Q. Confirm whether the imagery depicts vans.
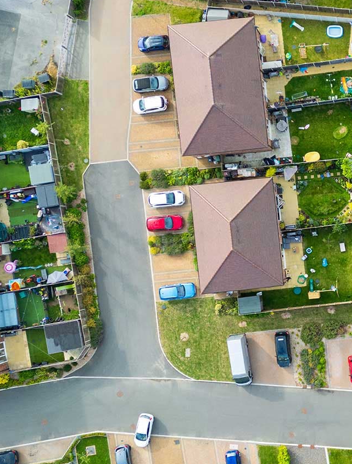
Yes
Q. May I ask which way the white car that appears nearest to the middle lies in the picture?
horizontally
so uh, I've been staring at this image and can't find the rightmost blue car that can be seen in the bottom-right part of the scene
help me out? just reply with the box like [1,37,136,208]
[274,330,292,367]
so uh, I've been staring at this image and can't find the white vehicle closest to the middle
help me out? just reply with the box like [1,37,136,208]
[147,188,186,208]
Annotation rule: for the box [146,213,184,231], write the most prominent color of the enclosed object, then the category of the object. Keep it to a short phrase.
red car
